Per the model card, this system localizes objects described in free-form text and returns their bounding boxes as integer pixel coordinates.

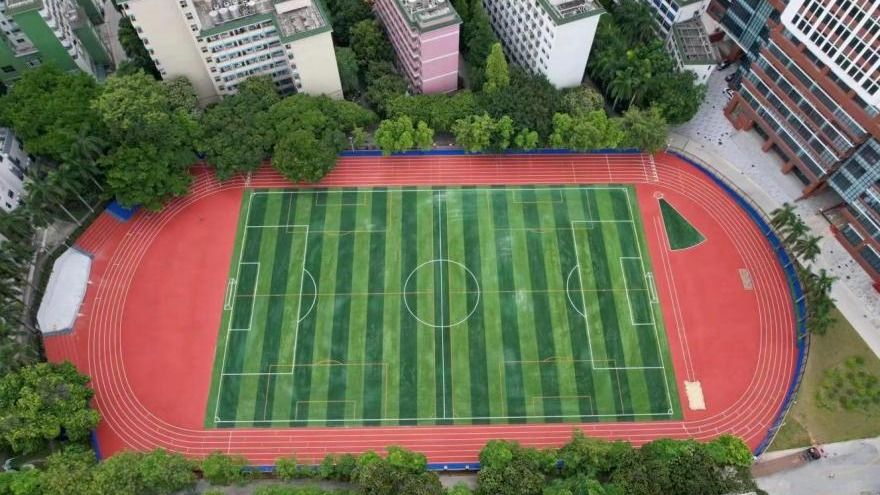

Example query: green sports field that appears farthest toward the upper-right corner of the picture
[656,193,708,250]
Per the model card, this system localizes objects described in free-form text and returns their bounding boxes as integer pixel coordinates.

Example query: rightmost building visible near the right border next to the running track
[691,0,880,282]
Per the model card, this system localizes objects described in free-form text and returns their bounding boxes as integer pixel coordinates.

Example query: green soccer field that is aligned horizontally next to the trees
[204,184,683,428]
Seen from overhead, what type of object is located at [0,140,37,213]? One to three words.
house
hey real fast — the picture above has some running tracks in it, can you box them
[72,152,798,472]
